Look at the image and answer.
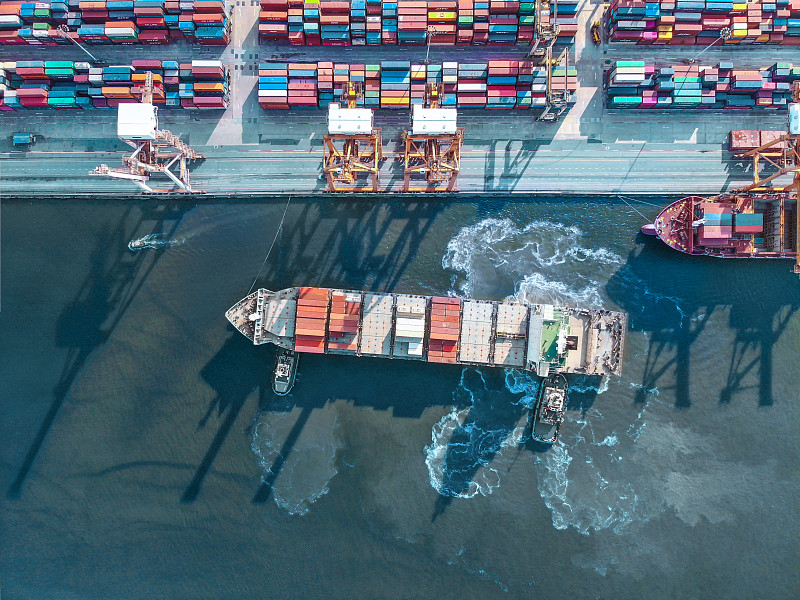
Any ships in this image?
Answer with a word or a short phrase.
Yes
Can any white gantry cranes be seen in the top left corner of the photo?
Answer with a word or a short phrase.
Yes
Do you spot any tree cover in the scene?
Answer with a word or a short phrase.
No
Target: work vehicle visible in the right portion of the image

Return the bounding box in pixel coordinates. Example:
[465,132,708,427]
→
[591,17,606,44]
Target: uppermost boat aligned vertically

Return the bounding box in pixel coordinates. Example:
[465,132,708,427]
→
[273,349,301,398]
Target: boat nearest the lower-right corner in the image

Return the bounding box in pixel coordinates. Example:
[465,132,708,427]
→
[533,375,570,445]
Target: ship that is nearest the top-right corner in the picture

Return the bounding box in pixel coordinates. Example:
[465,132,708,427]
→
[641,194,794,259]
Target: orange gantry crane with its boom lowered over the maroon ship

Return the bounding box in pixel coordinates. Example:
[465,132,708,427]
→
[729,80,800,277]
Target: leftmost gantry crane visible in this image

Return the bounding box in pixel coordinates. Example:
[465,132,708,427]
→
[82,79,207,191]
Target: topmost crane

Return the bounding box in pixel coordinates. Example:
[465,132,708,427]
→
[524,0,559,55]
